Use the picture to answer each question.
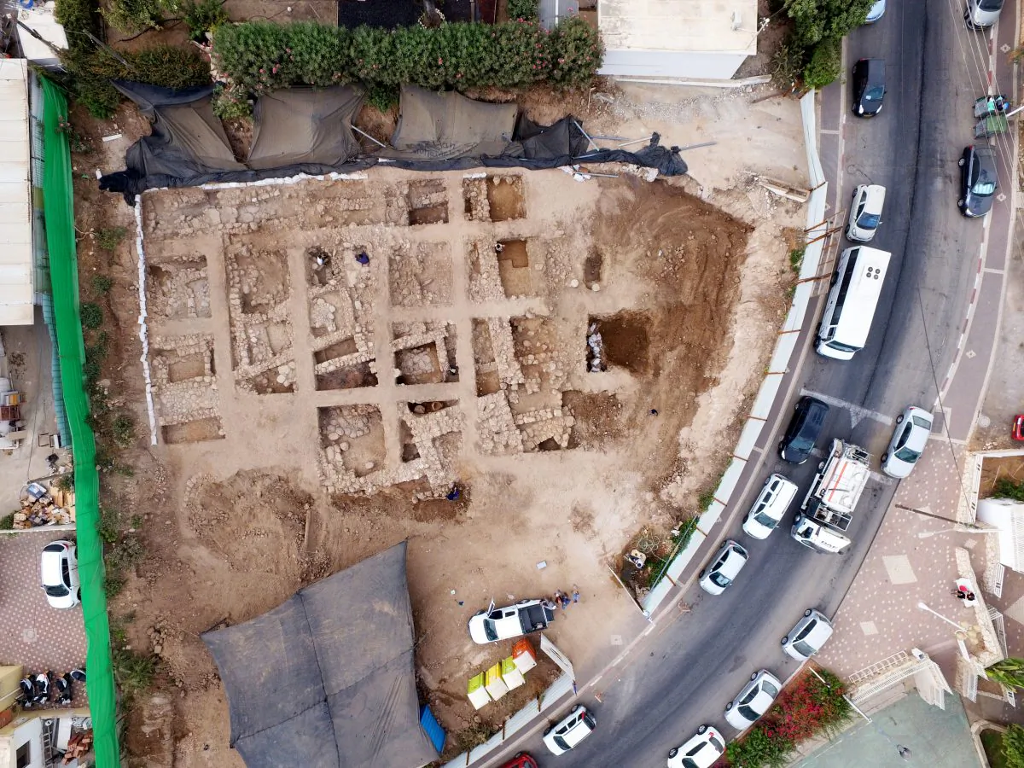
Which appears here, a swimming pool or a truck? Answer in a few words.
truck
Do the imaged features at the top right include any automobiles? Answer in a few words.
Yes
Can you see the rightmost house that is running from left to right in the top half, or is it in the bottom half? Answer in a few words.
top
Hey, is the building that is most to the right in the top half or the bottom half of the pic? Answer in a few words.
bottom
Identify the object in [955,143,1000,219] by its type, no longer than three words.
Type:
car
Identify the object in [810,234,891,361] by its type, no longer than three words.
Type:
vehicle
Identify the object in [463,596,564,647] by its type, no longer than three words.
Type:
truck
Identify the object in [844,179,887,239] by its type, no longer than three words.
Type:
car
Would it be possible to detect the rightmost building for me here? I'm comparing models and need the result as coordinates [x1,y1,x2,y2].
[980,494,1024,577]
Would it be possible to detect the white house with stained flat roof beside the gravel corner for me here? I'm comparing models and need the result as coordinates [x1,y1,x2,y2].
[593,0,757,76]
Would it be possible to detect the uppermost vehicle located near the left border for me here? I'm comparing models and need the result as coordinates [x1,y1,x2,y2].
[37,538,81,609]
